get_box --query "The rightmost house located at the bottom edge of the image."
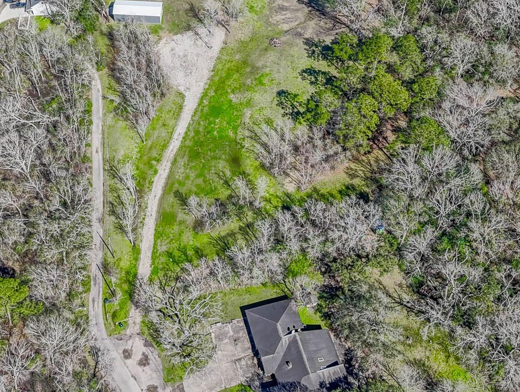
[245,298,358,392]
